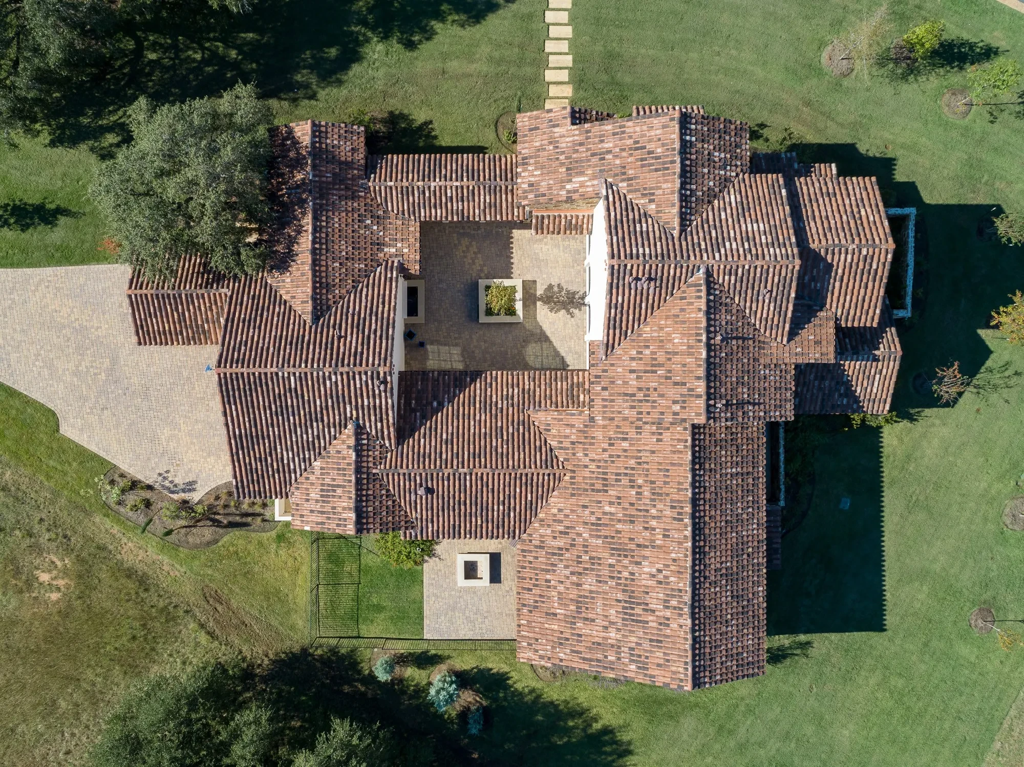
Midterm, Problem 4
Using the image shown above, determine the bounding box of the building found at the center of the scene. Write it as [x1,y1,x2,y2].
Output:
[124,104,905,693]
